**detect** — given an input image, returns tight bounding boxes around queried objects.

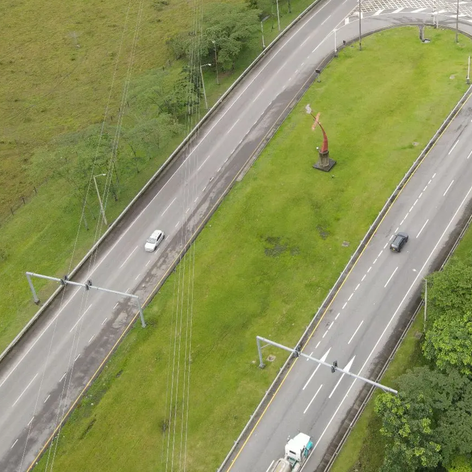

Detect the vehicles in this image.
[387,231,409,254]
[141,226,166,252]
[271,430,315,472]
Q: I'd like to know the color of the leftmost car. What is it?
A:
white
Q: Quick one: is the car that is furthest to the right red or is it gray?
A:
gray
